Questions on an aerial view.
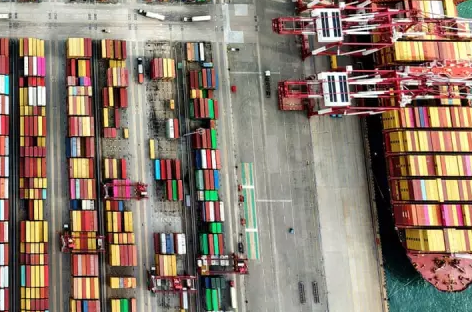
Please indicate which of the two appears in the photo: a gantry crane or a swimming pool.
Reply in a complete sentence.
Looking from above, you can make out a gantry crane.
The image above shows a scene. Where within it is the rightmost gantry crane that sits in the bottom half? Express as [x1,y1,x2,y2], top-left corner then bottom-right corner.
[187,253,249,276]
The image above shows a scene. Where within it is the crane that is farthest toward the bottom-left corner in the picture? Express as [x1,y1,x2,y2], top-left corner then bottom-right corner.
[55,231,105,253]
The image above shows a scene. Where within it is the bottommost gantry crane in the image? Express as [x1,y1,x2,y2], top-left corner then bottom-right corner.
[140,270,198,294]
